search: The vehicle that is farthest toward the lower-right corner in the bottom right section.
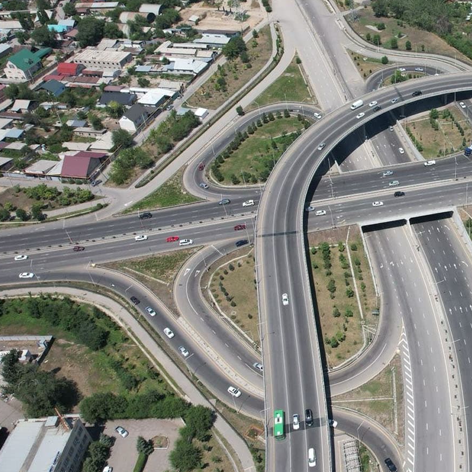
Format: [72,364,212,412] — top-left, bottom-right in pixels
[384,457,397,472]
